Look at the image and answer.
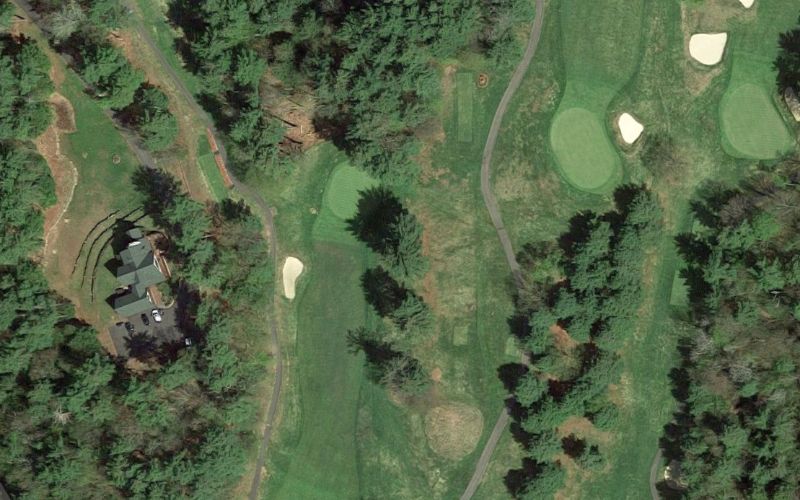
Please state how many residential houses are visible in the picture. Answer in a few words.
1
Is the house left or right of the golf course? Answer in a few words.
to the left of it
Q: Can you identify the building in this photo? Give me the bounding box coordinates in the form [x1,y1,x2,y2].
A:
[112,229,171,319]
